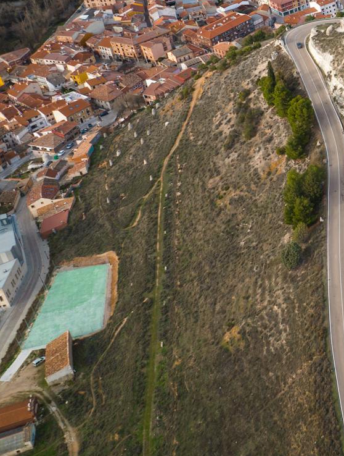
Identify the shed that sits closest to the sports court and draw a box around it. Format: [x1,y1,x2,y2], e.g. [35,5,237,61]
[41,337,79,385]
